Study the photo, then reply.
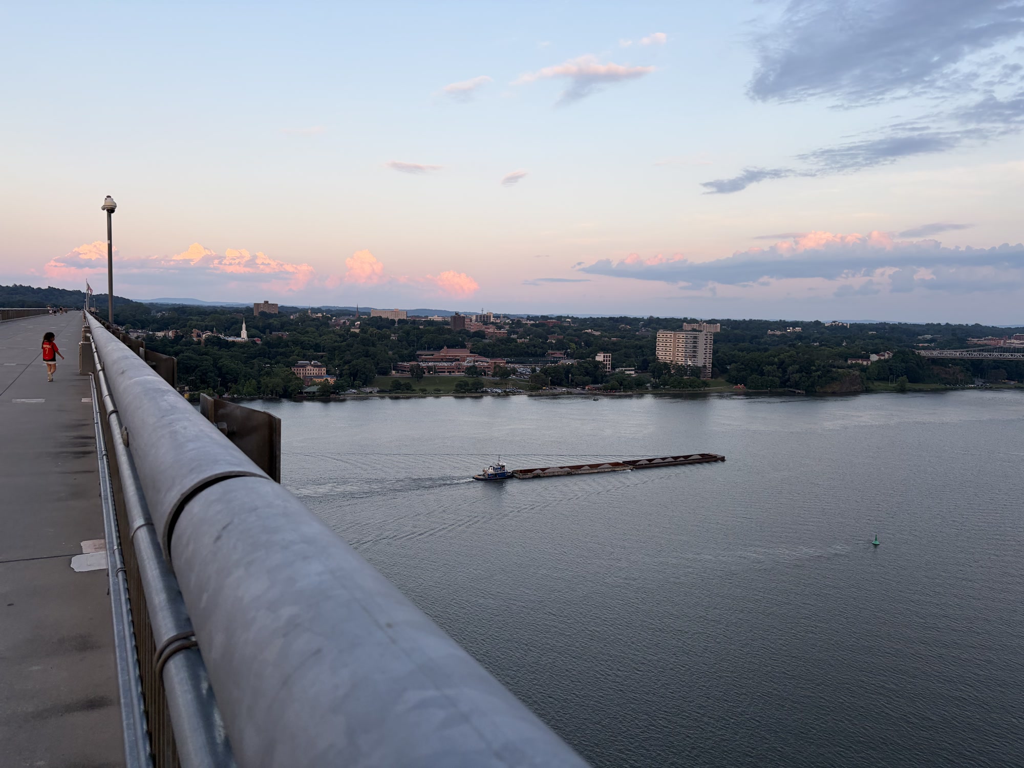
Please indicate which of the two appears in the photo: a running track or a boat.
boat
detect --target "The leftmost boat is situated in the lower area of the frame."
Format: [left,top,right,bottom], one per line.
[470,449,511,480]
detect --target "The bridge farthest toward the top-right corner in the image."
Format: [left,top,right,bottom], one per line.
[912,341,1024,379]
